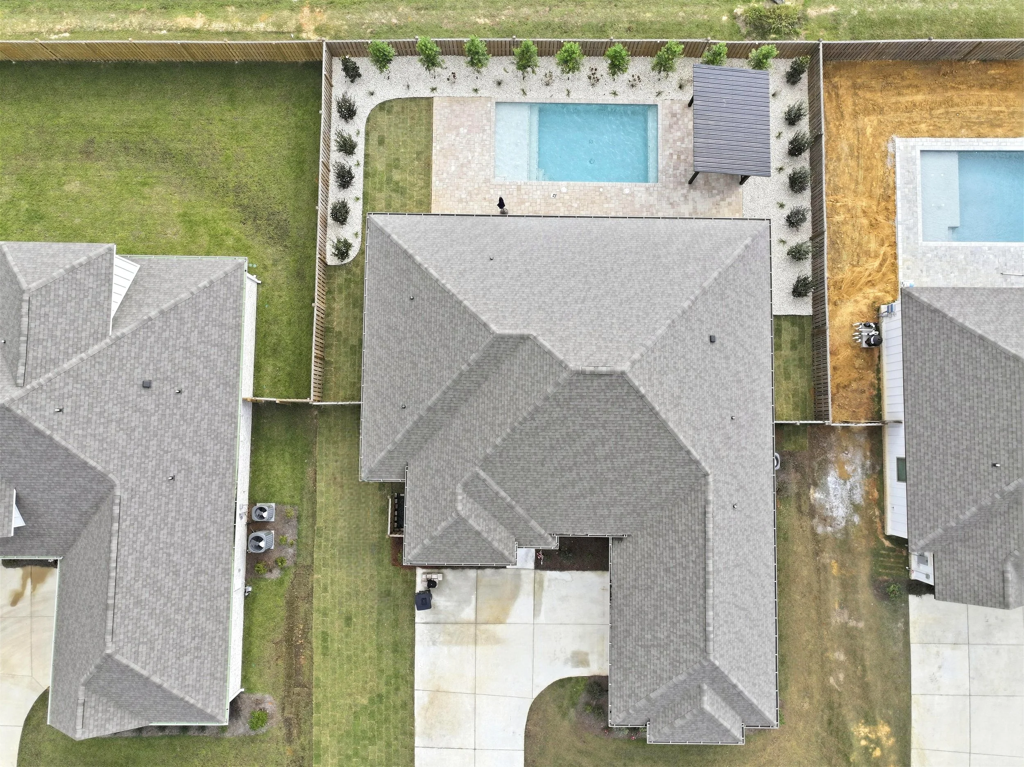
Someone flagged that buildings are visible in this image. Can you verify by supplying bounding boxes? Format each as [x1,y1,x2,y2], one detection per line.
[0,240,264,741]
[359,213,778,745]
[690,62,771,184]
[871,287,1024,610]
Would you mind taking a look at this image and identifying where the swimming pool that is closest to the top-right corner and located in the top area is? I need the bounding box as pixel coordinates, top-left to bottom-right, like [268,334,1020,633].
[916,146,1024,247]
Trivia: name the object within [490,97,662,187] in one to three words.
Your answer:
swimming pool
